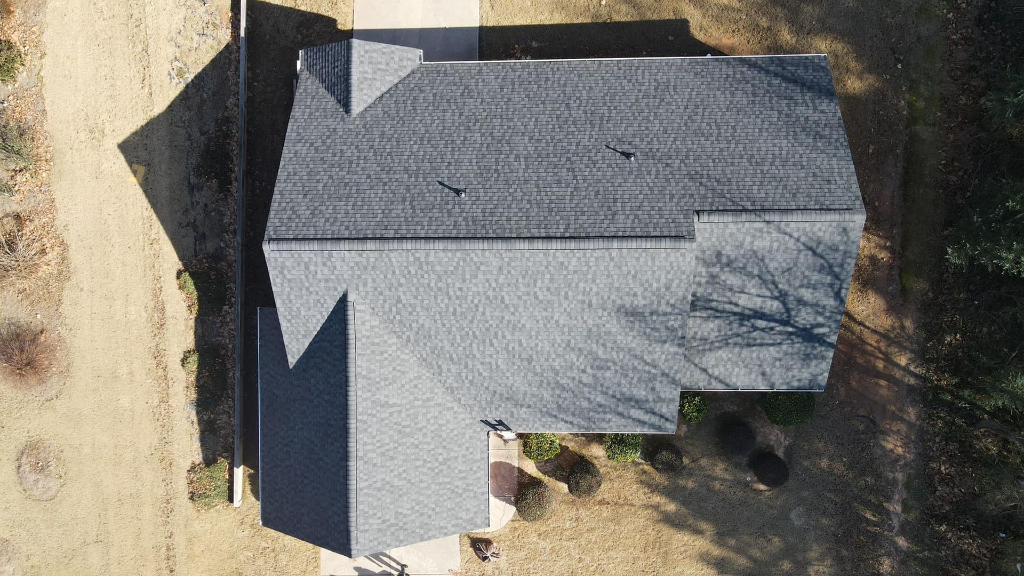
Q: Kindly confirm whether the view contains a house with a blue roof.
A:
No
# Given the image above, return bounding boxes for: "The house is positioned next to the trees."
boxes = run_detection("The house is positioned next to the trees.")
[258,38,864,561]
